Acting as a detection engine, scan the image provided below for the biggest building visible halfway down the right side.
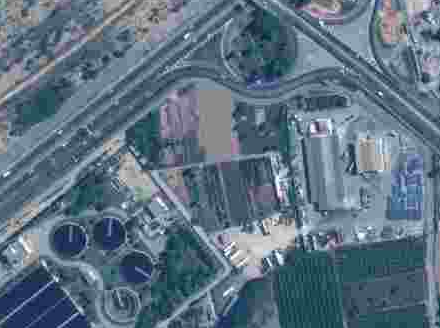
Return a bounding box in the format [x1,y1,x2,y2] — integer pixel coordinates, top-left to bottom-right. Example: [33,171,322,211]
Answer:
[305,132,352,212]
